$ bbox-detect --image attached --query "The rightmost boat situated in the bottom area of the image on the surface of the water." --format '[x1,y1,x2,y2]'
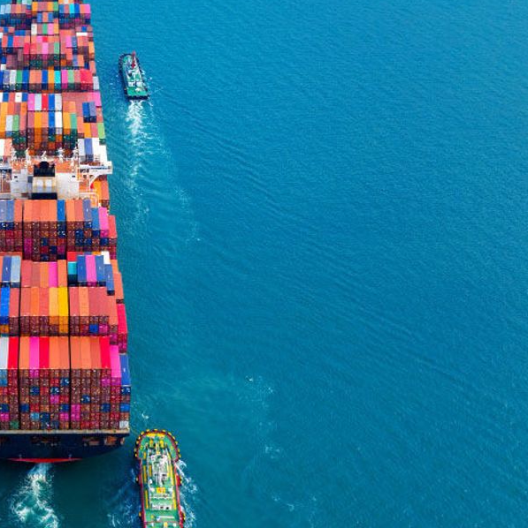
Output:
[135,427,188,528]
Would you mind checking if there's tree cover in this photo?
No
